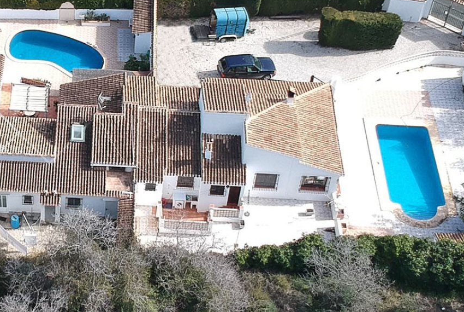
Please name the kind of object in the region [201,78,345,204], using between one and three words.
house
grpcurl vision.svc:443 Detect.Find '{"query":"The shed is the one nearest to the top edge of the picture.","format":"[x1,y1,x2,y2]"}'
[132,0,154,54]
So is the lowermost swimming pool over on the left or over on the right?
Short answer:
right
